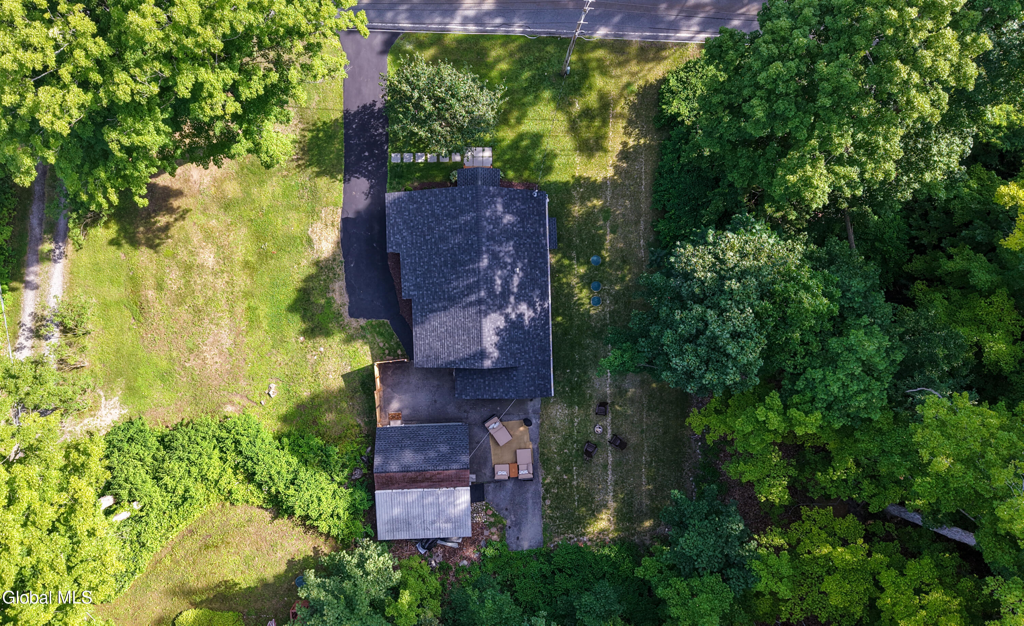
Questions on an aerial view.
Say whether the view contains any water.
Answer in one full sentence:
No, the scene doesn't show any water.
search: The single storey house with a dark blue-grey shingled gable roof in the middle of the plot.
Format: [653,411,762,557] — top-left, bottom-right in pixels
[386,165,557,399]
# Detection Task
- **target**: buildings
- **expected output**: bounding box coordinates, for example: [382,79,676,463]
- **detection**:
[386,165,557,399]
[373,422,471,540]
